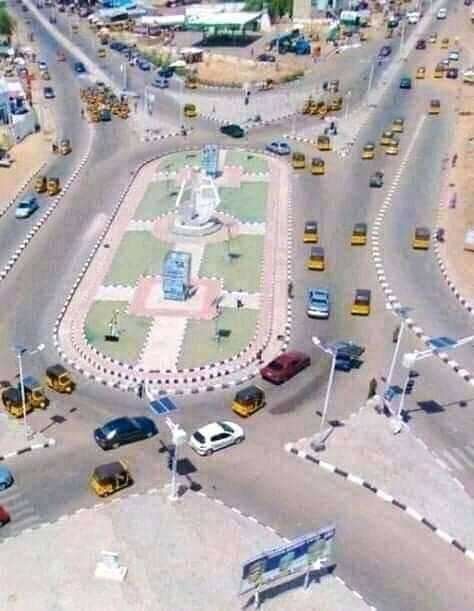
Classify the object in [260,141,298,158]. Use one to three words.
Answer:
car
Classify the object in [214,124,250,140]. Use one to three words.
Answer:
car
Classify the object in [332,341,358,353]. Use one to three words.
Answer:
solar panel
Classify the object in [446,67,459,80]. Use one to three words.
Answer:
vehicle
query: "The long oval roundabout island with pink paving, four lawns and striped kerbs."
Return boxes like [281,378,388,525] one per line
[53,147,293,393]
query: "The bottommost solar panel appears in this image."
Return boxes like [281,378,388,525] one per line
[146,391,178,413]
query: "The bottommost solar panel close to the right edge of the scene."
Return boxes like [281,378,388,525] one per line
[426,332,459,350]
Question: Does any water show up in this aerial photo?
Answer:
No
